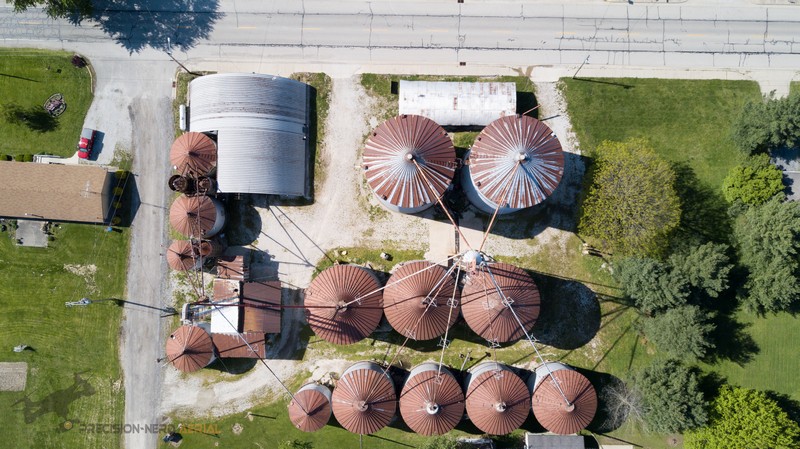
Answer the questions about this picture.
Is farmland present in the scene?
No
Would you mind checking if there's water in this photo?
No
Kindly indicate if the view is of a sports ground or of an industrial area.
industrial area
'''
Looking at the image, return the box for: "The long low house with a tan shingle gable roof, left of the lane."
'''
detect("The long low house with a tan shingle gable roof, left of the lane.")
[0,162,113,223]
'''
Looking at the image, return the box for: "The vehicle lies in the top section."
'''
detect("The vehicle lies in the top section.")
[75,128,94,160]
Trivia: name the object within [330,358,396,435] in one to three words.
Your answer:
silo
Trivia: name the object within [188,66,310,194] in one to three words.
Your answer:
barn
